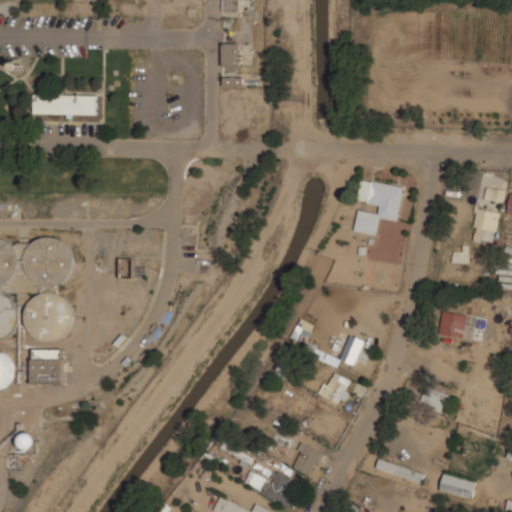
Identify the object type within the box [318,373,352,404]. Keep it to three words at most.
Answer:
house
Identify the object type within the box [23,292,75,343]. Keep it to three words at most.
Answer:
storage tank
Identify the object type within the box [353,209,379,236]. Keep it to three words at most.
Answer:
building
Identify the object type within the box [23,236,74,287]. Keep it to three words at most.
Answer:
storage tank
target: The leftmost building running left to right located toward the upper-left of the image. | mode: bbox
[32,95,98,121]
